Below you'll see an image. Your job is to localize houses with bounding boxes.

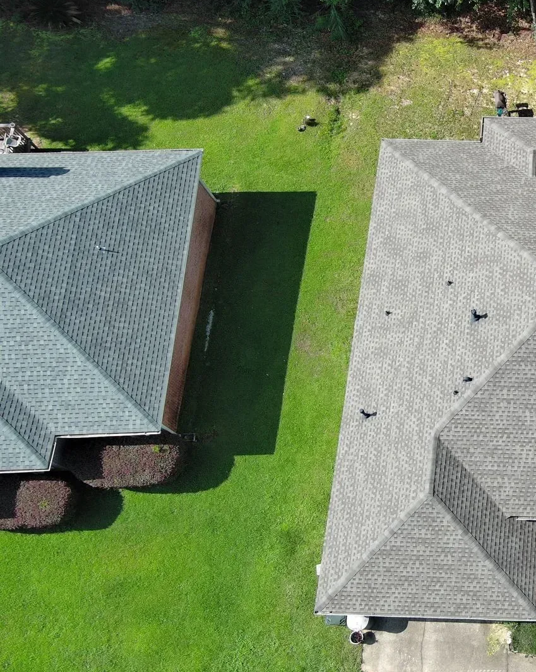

[315,115,536,625]
[0,148,230,474]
